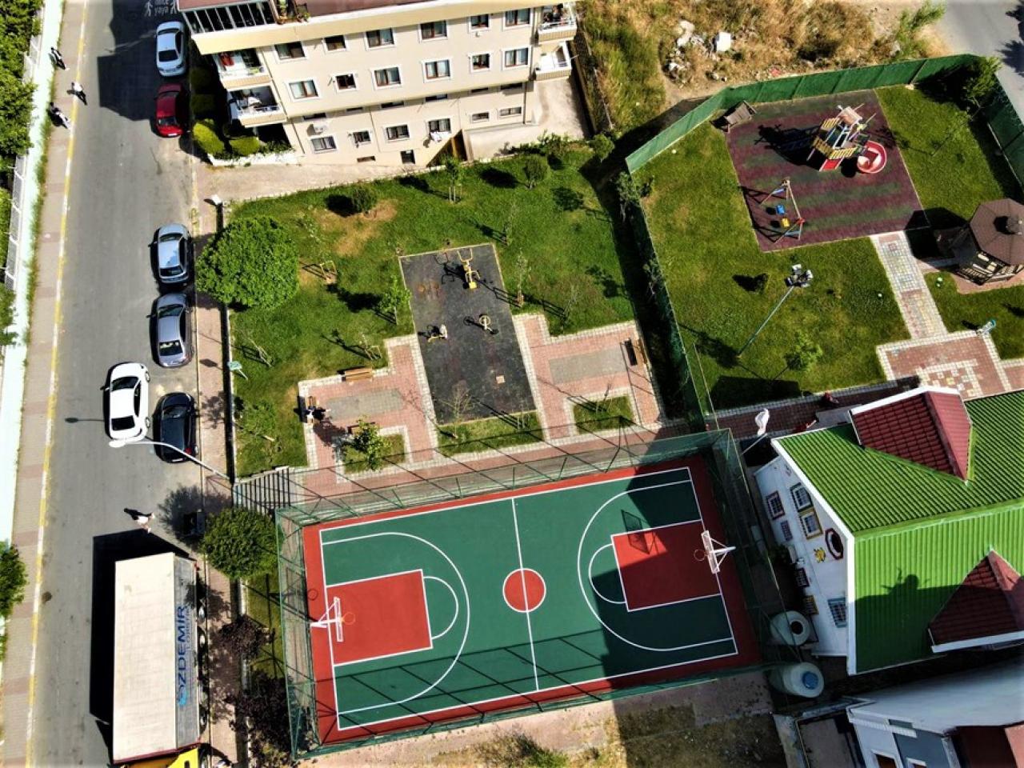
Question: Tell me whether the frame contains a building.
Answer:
Yes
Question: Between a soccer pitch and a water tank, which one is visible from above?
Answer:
water tank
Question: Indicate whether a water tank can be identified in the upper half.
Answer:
No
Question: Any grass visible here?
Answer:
Yes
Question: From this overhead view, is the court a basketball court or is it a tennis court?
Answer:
basketball court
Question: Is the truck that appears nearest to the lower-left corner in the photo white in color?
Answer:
Yes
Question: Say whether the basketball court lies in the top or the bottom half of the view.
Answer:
bottom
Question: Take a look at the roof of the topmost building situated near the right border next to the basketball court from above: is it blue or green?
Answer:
green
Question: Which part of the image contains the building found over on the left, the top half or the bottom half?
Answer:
top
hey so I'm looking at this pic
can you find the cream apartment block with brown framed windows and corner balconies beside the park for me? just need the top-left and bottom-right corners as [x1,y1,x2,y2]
[173,0,583,166]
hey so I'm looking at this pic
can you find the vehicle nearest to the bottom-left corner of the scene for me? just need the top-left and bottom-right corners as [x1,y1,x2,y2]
[113,552,208,768]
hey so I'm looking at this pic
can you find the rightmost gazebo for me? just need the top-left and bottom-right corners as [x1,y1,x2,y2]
[946,202,1024,289]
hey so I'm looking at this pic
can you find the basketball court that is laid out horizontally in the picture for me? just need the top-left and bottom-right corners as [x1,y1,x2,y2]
[303,455,760,745]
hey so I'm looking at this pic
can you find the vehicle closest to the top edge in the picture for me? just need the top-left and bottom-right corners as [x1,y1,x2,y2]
[153,23,189,81]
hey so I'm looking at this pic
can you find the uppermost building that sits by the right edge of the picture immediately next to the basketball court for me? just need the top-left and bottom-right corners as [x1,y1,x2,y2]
[754,388,1024,676]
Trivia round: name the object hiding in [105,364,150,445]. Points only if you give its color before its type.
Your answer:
white car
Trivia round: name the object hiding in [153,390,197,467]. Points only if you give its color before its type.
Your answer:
black car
